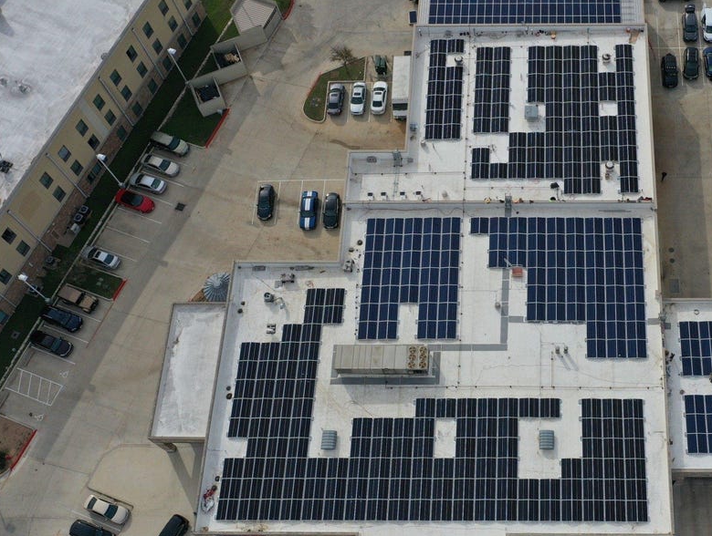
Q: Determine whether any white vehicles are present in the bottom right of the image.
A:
No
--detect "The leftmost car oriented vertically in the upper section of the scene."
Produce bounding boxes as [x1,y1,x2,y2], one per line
[255,183,275,222]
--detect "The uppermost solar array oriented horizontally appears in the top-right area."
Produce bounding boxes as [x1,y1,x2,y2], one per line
[428,0,621,25]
